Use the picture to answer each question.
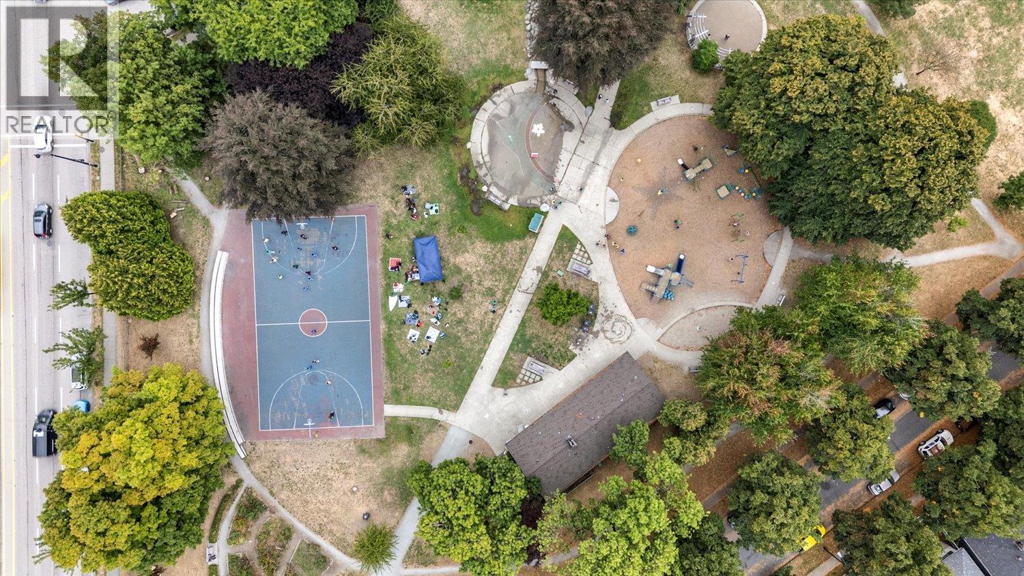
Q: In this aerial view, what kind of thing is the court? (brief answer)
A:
basketball court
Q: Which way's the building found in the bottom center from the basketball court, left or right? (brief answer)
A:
right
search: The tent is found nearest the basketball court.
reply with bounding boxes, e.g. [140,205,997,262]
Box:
[414,236,446,284]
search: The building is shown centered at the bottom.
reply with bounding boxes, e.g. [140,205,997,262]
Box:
[504,352,664,497]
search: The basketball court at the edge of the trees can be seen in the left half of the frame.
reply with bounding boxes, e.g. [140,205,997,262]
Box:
[221,205,386,441]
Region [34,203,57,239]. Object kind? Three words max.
car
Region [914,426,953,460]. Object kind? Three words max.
car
